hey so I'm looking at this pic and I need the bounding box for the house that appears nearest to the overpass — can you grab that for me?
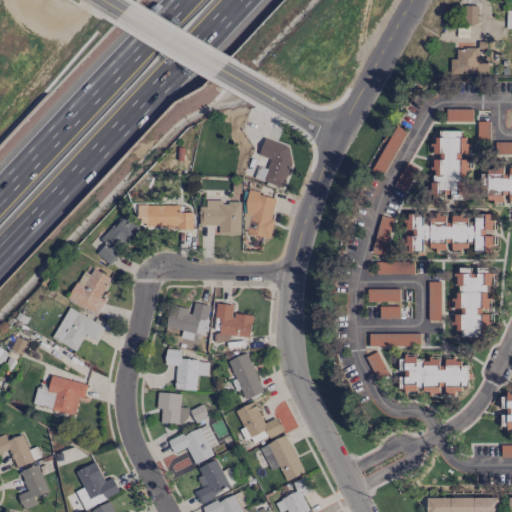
[252,138,298,188]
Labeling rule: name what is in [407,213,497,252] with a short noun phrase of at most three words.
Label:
building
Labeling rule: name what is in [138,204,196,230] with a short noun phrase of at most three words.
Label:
house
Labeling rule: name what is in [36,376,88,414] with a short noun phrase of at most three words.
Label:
house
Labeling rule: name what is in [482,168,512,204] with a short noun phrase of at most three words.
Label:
building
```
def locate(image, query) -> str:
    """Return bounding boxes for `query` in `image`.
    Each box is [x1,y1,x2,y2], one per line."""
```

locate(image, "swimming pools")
[212,419,230,439]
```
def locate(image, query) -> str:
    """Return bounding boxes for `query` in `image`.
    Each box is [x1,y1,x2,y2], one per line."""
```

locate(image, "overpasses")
[67,0,292,118]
